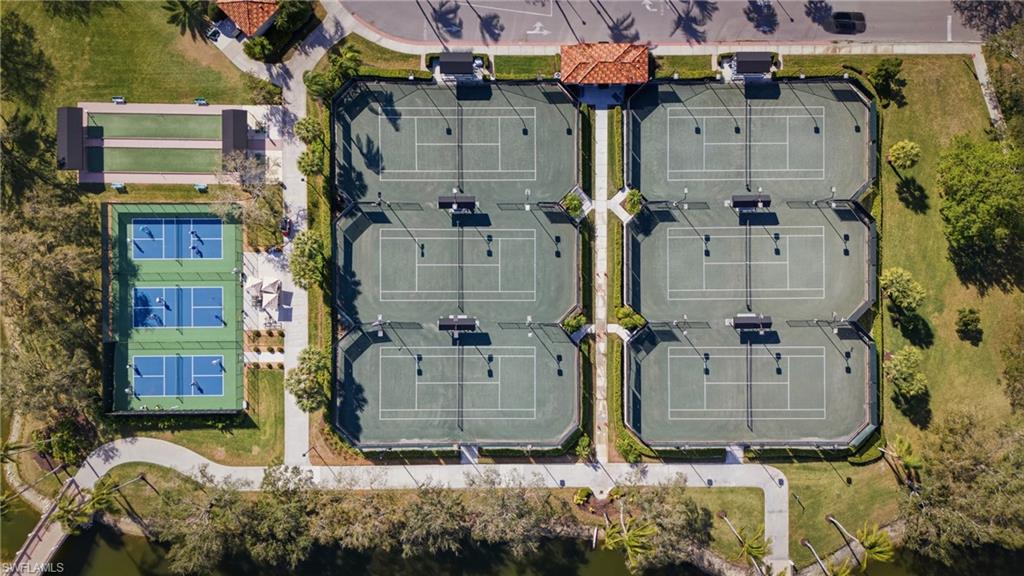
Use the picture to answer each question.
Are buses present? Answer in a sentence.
No, there appears to be no bus in this shot.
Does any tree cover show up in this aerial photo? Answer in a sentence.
Yes, tree cover can be seen from above here.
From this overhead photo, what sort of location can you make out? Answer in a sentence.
The area seen from above is a sports ground.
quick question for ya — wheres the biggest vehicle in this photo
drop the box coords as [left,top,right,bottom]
[831,10,865,27]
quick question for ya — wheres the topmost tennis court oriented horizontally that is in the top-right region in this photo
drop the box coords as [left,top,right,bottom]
[627,85,865,204]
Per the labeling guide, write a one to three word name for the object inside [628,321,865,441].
tennis court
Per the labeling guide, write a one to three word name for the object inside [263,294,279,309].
umbrella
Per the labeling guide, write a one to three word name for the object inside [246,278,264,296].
umbrella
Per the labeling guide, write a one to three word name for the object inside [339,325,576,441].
tennis court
